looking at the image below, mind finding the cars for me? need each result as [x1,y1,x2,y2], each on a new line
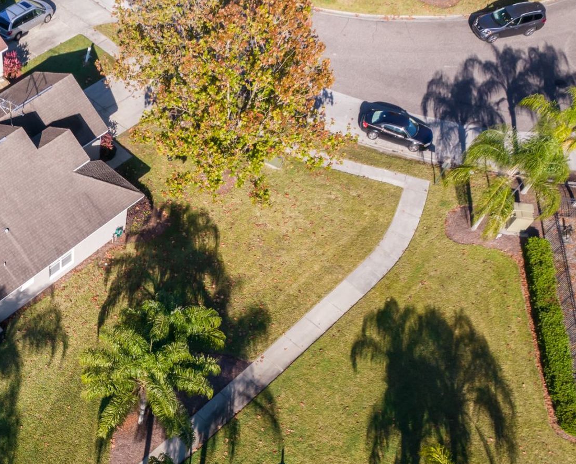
[0,0,53,41]
[361,110,432,153]
[474,2,546,43]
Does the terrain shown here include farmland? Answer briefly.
No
